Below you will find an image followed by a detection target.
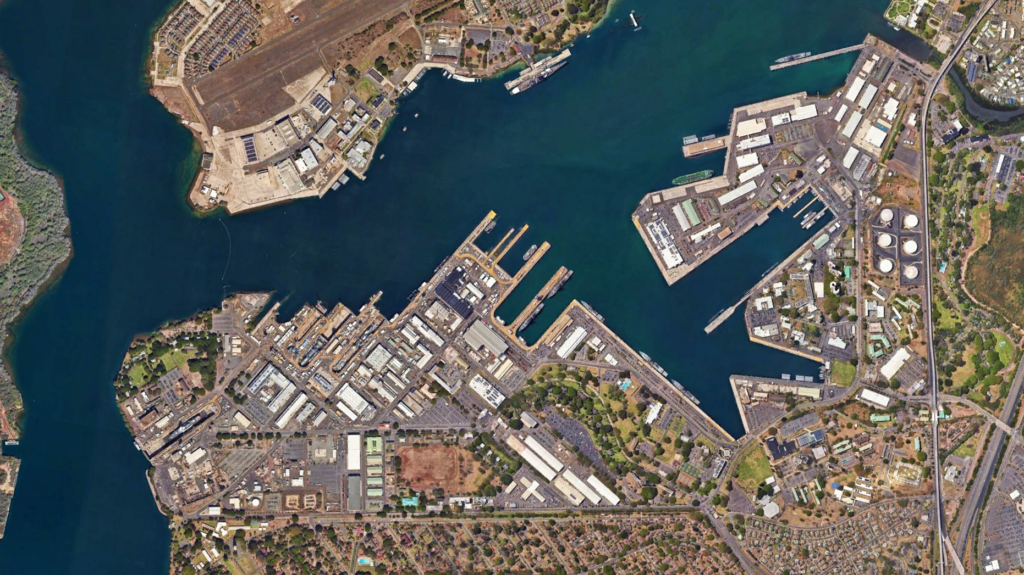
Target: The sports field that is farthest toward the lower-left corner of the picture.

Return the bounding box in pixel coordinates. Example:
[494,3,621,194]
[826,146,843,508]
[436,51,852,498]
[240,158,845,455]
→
[398,444,460,492]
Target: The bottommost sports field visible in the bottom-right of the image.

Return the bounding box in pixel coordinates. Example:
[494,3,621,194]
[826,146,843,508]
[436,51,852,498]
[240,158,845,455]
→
[737,446,773,490]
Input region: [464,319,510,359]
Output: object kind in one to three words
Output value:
building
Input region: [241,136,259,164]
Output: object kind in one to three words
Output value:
hangar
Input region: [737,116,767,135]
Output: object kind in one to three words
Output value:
building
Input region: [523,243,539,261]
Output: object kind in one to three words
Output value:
ship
